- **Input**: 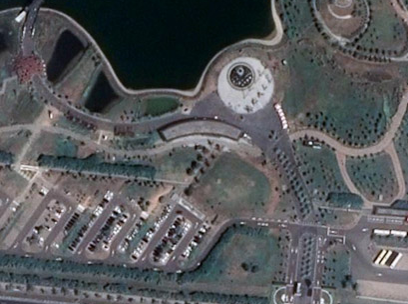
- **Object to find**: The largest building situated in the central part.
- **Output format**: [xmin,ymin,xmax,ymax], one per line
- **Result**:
[159,118,244,140]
